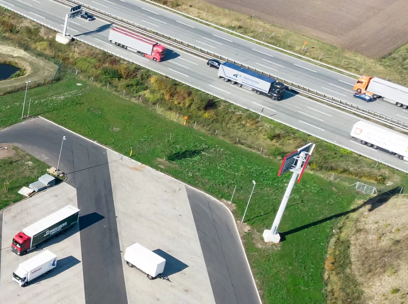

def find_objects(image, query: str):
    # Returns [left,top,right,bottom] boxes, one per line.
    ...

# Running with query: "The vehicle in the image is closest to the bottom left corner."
[9,249,57,288]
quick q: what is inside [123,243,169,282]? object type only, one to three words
trailer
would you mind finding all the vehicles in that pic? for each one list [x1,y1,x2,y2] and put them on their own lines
[353,93,374,104]
[108,27,168,63]
[217,61,287,100]
[354,76,408,110]
[9,249,57,288]
[206,60,221,68]
[349,122,408,163]
[77,13,95,22]
[10,205,80,255]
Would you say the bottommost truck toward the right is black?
No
